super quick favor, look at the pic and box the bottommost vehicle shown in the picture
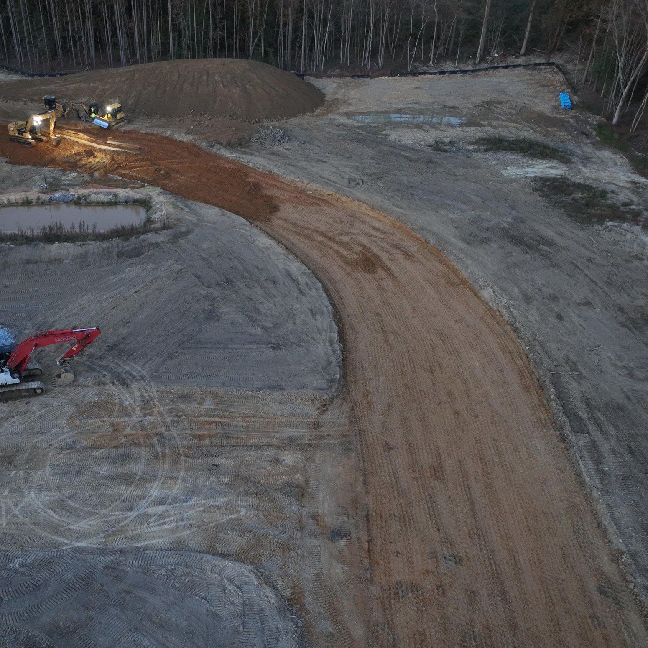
[0,325,102,399]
